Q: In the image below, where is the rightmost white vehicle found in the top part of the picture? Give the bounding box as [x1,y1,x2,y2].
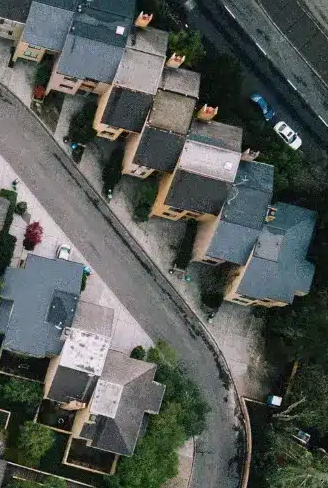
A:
[271,119,303,152]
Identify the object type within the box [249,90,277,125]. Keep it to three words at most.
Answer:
car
